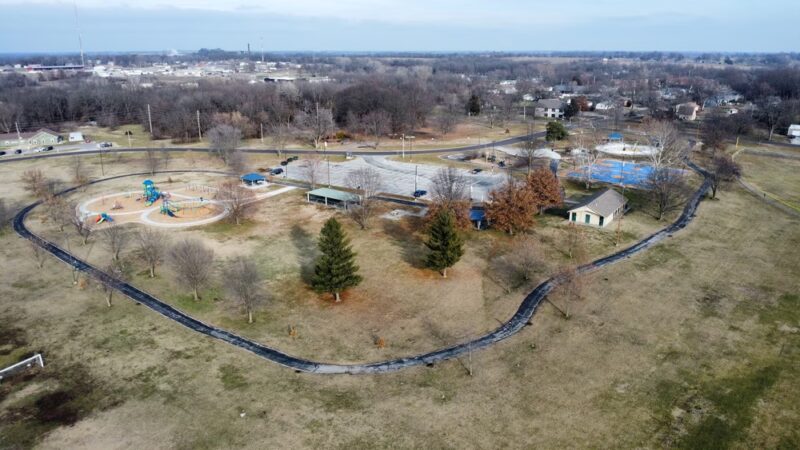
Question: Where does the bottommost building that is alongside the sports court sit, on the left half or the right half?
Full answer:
The bottommost building that is alongside the sports court sits on the right side.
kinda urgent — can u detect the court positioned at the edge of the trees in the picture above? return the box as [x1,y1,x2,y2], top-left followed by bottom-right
[566,160,691,190]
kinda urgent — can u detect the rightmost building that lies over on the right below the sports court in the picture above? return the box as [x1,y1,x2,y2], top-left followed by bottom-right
[562,188,639,230]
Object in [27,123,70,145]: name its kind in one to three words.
building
